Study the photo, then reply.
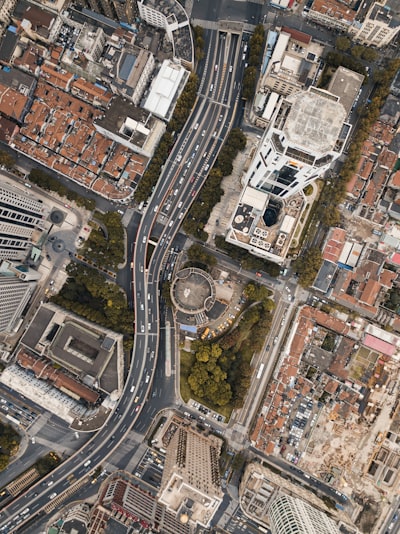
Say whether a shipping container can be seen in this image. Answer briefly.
No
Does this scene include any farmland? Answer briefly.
No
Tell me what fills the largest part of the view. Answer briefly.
buildings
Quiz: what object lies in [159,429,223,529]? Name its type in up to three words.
building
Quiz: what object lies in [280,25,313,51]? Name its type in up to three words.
building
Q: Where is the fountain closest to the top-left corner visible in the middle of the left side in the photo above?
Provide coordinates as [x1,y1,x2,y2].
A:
[46,206,67,227]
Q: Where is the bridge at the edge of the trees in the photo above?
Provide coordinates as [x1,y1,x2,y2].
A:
[0,30,235,534]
